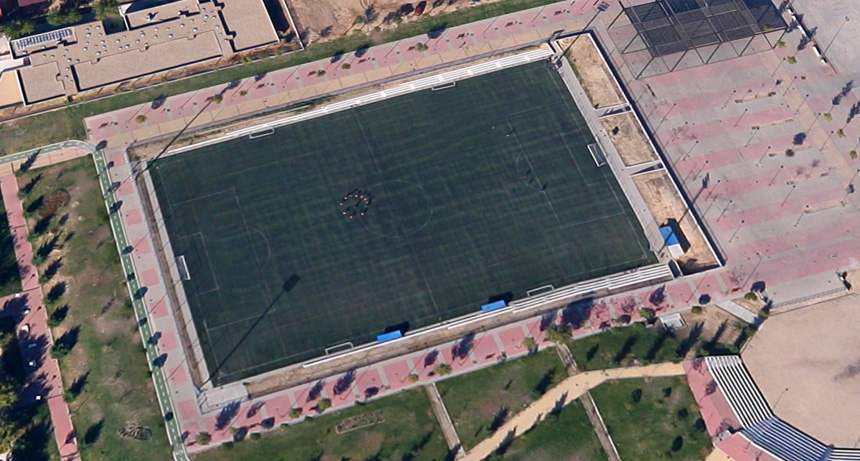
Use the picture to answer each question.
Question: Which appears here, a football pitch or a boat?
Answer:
football pitch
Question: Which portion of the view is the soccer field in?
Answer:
center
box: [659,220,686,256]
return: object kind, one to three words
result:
shed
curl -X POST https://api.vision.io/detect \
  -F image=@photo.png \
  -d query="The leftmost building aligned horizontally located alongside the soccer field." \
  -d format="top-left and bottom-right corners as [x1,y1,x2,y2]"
[9,0,281,113]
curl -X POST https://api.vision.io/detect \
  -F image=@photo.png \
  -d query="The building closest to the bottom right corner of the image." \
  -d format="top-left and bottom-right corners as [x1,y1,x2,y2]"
[660,310,686,331]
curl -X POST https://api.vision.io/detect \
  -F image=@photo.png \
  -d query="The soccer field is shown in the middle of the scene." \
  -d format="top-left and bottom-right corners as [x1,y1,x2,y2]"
[148,55,658,386]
